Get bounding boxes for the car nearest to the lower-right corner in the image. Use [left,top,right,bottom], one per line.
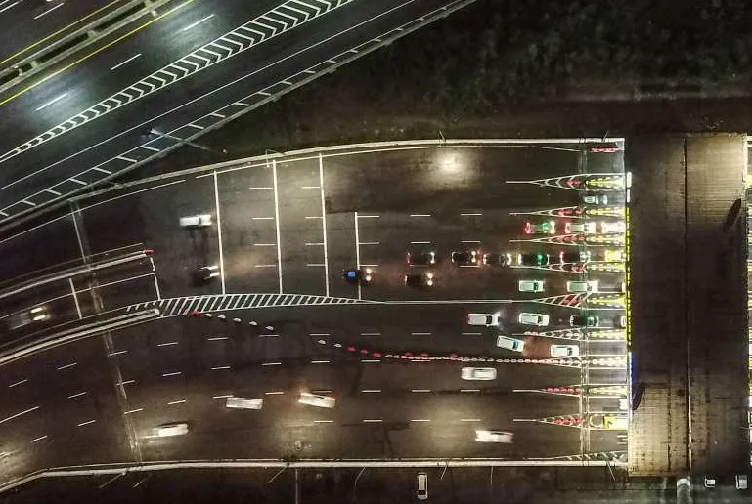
[735,475,750,489]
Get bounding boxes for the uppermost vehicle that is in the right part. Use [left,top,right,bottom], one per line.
[585,192,609,206]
